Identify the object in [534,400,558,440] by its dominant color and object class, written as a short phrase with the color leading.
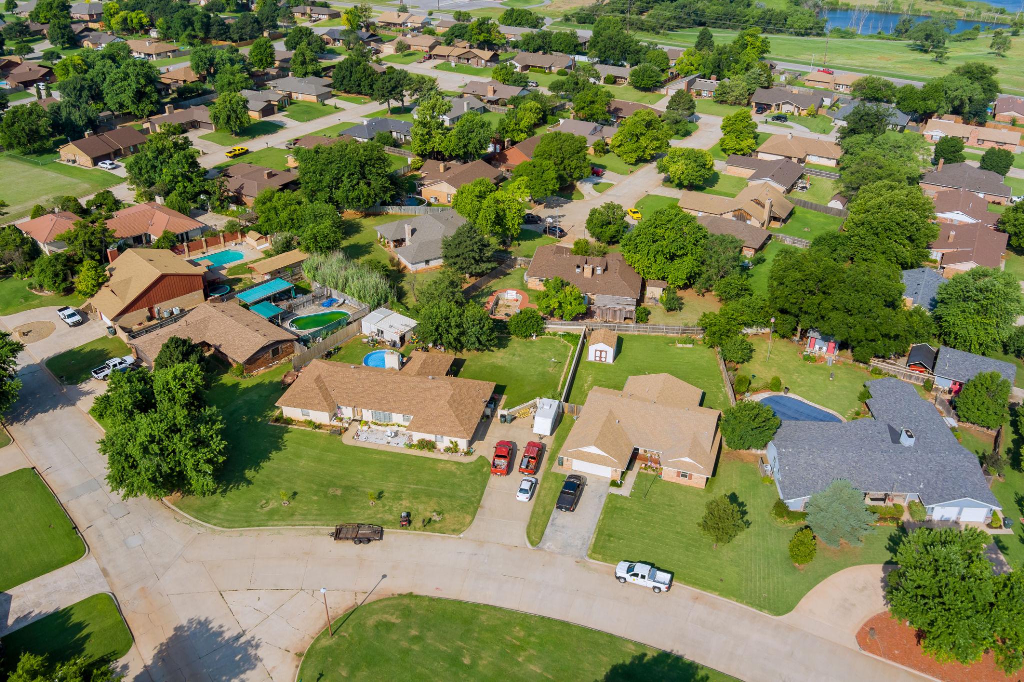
white trailer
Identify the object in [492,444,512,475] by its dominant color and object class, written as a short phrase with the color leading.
red vehicle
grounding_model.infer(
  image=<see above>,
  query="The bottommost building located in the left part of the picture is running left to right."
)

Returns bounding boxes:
[275,344,498,451]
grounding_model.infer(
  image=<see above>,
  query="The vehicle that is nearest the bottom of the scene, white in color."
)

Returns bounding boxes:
[616,563,674,595]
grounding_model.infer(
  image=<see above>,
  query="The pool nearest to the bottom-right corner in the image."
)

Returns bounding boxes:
[741,391,847,421]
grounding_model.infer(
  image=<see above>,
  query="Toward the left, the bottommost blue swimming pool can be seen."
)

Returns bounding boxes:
[364,351,387,365]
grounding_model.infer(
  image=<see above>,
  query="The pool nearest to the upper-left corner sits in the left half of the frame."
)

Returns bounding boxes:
[193,243,272,281]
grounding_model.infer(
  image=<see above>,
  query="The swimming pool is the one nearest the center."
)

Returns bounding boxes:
[479,290,541,326]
